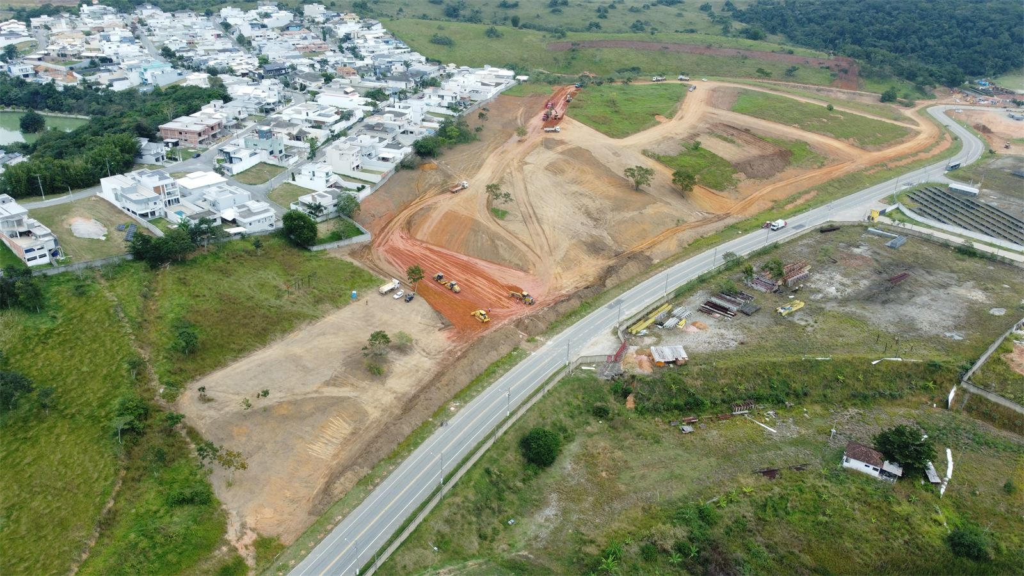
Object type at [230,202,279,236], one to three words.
house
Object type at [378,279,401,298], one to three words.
vehicle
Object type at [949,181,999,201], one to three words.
house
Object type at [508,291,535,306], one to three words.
work vehicle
